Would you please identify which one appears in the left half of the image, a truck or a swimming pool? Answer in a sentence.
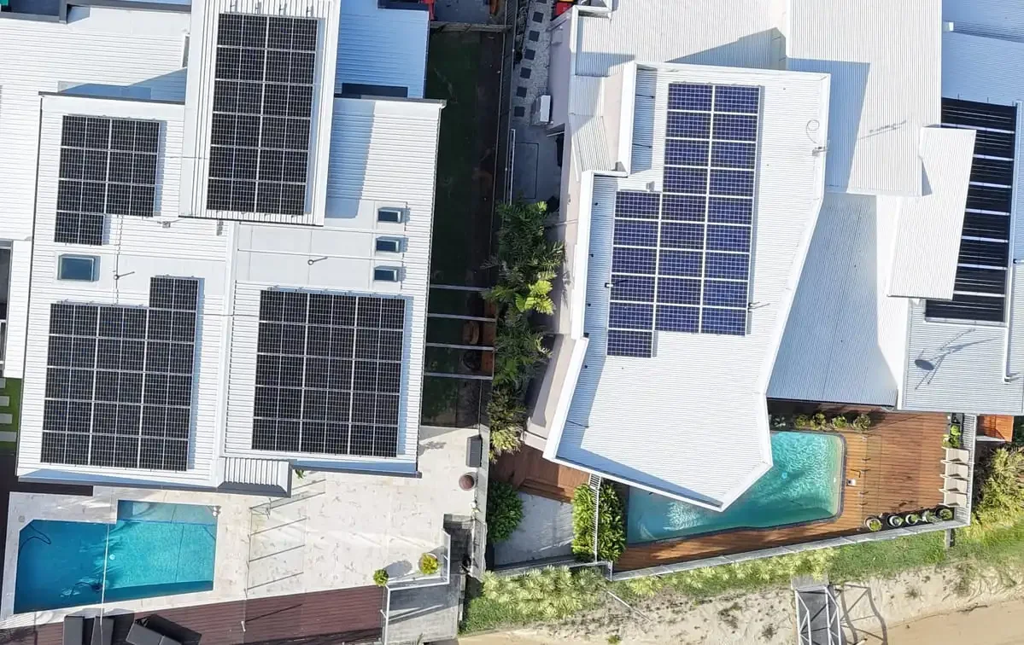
Visible in the left half of the image is a swimming pool.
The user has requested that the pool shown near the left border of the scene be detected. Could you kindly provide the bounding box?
[21,500,218,608]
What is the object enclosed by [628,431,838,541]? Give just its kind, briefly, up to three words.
swimming pool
